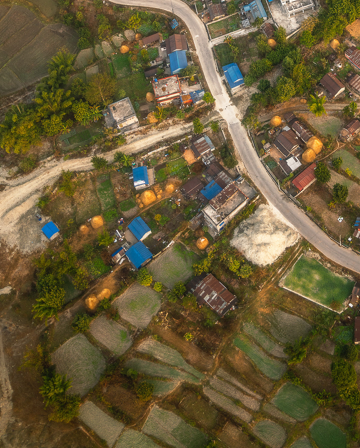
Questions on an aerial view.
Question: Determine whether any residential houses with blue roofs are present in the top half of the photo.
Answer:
Yes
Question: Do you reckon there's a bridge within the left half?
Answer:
No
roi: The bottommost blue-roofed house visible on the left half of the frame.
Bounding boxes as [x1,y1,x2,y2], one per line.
[113,240,153,268]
